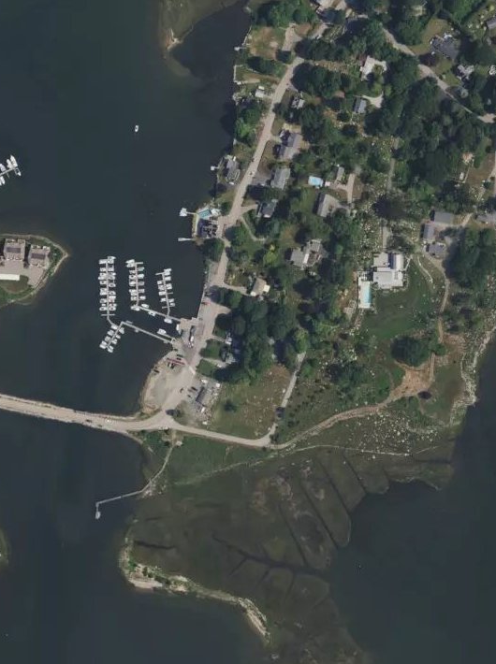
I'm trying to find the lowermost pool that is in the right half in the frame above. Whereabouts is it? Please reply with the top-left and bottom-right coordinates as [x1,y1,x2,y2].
[359,278,371,307]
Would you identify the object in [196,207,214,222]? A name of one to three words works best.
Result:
swimming pool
